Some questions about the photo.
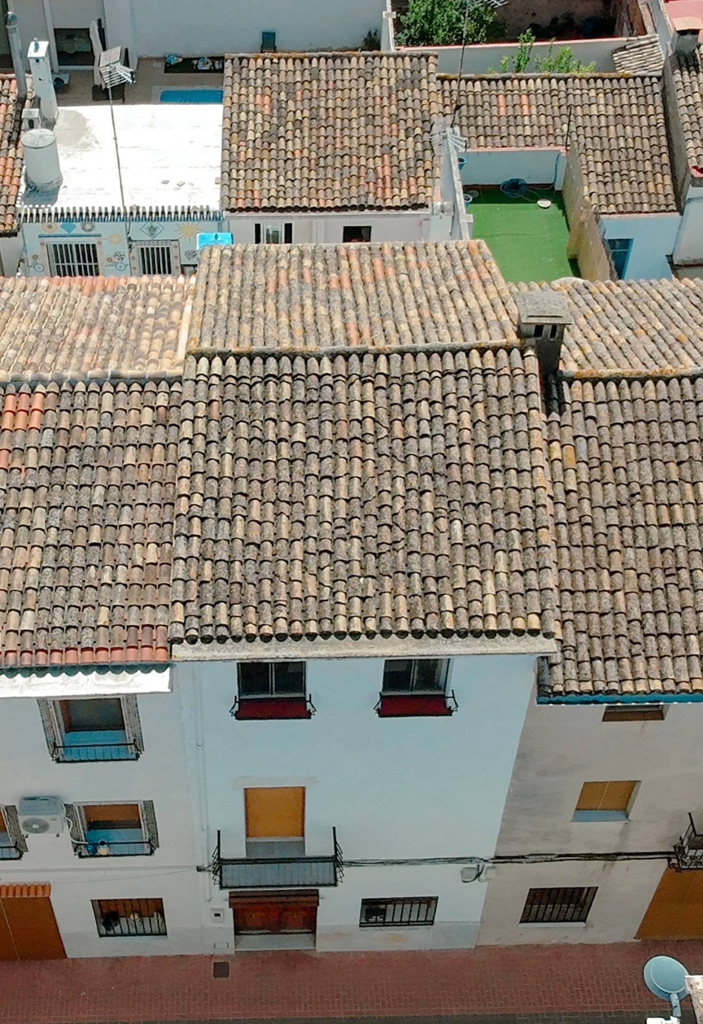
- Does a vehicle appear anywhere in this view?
No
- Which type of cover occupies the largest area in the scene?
buildings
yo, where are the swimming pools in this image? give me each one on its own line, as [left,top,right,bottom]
[151,84,220,103]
